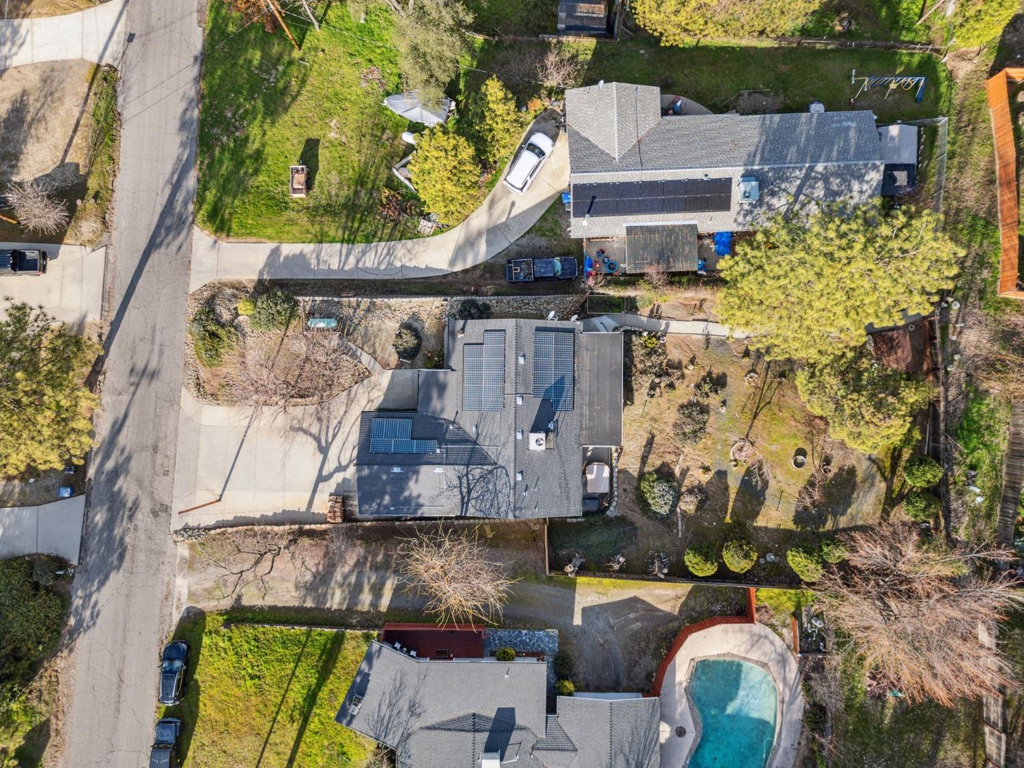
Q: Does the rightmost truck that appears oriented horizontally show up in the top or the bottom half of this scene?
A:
top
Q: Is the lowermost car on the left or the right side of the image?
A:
left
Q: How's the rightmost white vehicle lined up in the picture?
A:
at an angle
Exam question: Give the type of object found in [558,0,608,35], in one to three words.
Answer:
shed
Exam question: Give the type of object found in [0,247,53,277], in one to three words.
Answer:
truck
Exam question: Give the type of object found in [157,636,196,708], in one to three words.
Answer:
car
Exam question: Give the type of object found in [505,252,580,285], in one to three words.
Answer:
truck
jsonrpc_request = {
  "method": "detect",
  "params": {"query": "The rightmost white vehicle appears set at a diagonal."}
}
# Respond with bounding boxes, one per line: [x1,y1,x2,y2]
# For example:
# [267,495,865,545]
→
[501,131,557,198]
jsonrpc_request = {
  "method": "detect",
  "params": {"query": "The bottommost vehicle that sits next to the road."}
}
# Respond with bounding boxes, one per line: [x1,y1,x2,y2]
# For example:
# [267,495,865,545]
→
[148,715,188,768]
